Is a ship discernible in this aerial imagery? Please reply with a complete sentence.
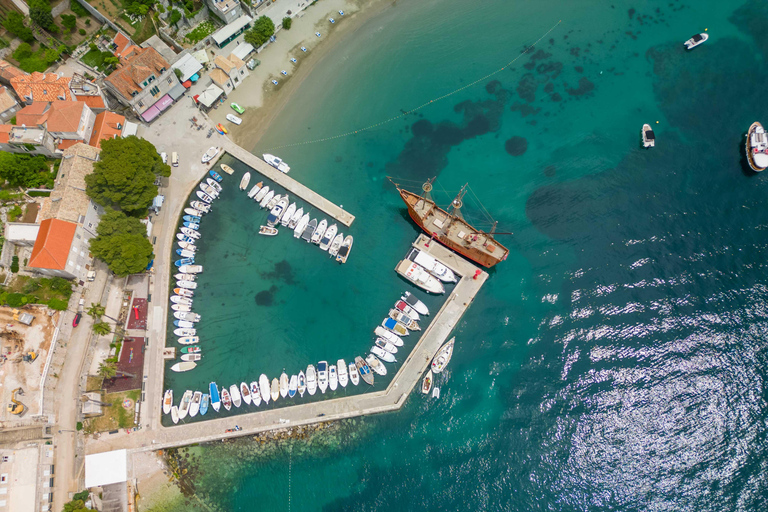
Yes, a ship is visible in the scene.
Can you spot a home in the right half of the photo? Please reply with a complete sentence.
No, there is no home in the right half of the photo.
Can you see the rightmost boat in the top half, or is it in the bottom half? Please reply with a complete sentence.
You can find the rightmost boat in the top half.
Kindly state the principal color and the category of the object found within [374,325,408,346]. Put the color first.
white boat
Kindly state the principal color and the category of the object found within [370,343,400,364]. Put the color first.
white boat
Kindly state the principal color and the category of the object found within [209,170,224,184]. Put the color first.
blue boat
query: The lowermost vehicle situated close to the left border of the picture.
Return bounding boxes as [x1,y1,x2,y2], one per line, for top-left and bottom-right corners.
[8,388,26,416]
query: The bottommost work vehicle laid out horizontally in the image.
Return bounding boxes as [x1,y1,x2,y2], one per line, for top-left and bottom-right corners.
[10,351,40,364]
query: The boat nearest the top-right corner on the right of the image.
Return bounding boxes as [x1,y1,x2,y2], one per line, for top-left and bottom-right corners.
[682,34,708,50]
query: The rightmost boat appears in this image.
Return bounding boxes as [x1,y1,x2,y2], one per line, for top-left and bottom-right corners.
[746,121,768,173]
